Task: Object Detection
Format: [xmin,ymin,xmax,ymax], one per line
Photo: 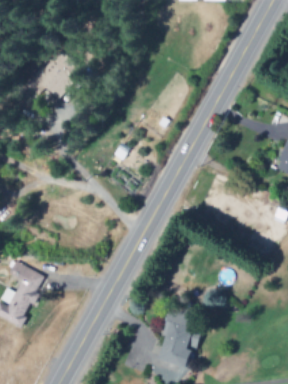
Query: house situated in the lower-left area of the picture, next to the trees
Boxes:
[0,262,46,326]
